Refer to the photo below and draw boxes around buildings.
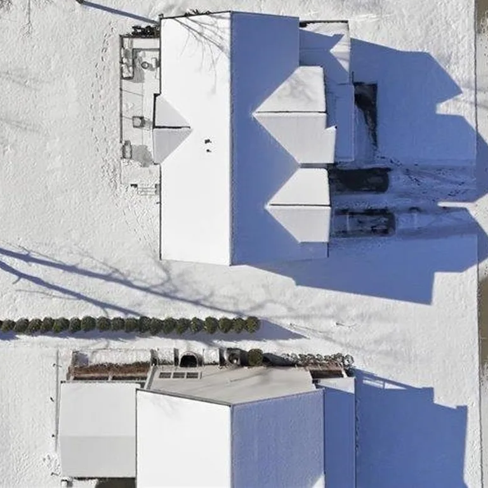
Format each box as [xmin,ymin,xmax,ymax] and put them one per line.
[151,10,354,265]
[56,364,357,488]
